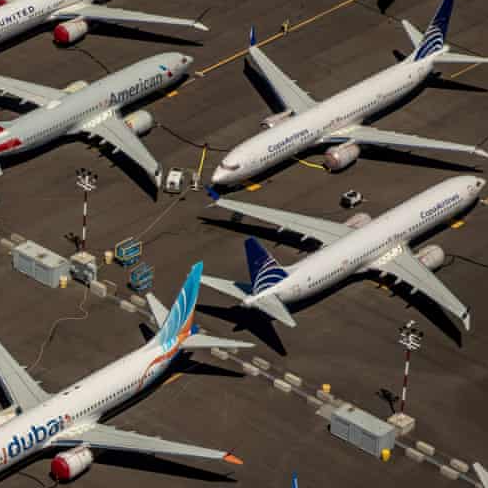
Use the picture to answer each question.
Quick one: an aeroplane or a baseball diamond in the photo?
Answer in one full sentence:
Visible in the photo is an aeroplane.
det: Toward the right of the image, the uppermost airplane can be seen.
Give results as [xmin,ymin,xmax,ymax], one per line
[210,0,488,194]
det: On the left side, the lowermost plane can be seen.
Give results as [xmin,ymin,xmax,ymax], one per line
[0,261,256,485]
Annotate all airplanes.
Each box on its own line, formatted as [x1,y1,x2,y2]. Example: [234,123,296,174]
[210,0,488,194]
[188,173,486,332]
[0,261,256,485]
[0,0,212,46]
[0,50,197,187]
